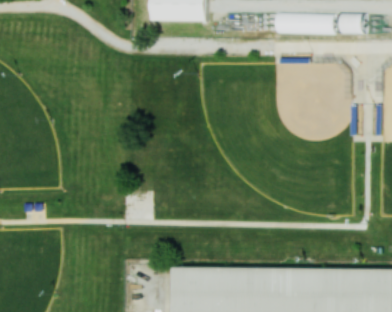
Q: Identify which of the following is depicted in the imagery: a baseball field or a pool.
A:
baseball field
